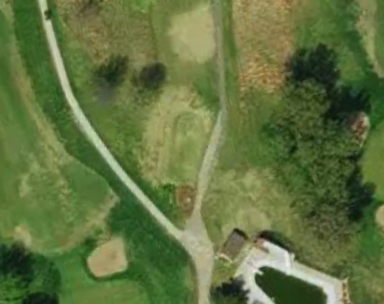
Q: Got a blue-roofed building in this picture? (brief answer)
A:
No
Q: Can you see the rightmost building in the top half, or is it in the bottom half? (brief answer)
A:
bottom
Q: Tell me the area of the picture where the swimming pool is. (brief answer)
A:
bottom right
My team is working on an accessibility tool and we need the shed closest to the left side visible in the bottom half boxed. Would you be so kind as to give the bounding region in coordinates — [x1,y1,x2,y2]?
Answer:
[222,230,249,260]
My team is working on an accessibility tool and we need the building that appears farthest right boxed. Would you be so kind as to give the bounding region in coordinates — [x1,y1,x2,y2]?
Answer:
[258,241,293,268]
